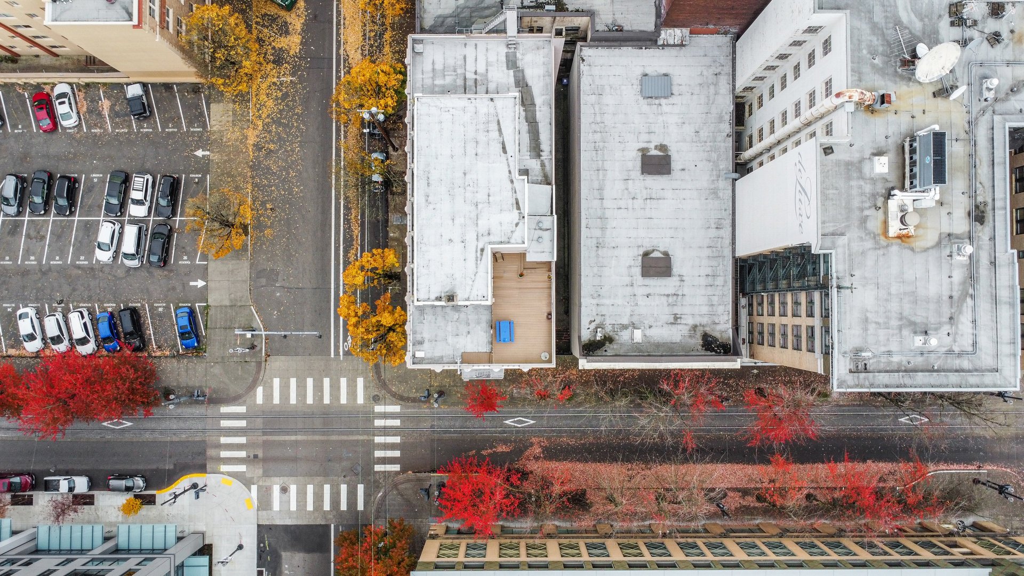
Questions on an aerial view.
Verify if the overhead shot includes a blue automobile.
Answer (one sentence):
Yes, a blue automobile appears in the view.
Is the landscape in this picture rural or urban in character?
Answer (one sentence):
From above, the setting appears urban.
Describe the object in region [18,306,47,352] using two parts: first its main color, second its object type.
white car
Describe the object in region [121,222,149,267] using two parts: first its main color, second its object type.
white van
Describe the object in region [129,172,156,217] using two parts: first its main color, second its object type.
white car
